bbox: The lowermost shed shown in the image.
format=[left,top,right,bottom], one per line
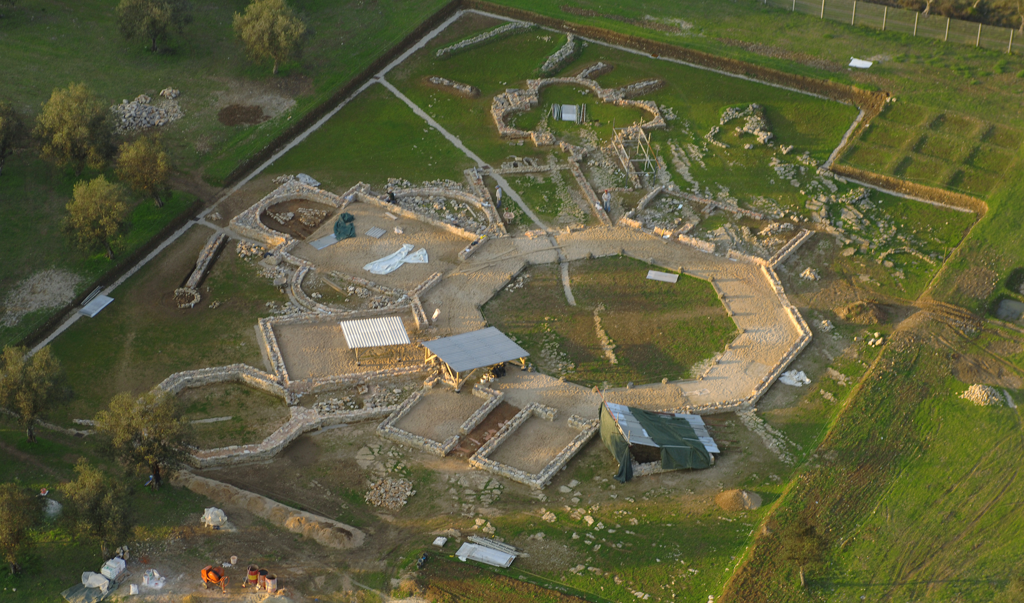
[595,385,737,501]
